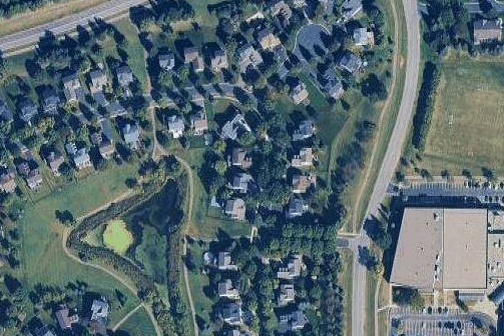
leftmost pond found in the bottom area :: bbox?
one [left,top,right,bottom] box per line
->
[101,179,183,321]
